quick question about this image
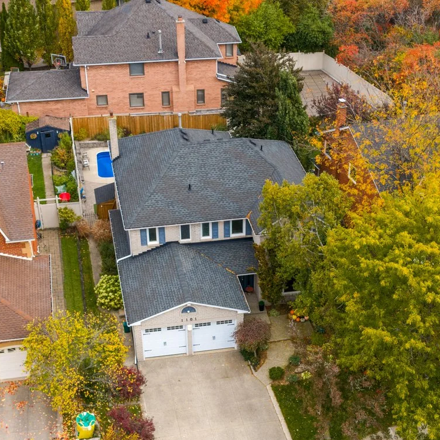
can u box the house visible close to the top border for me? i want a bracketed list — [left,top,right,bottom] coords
[5,0,244,123]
